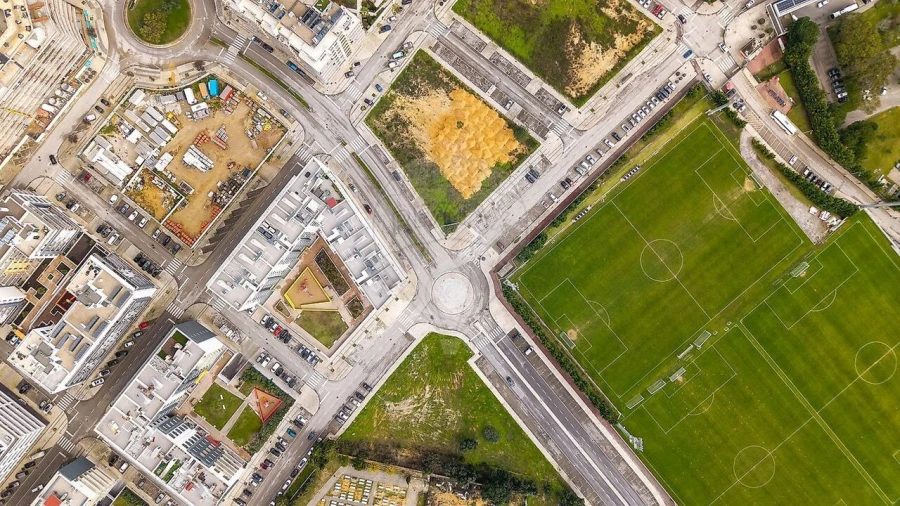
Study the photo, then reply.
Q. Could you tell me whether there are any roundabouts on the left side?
Yes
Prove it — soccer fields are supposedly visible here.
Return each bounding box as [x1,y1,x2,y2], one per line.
[617,320,889,506]
[510,112,813,408]
[735,214,900,506]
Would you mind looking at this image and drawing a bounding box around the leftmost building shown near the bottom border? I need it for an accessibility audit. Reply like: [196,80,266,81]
[0,389,48,494]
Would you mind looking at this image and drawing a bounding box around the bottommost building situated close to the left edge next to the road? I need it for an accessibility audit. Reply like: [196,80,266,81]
[28,459,112,506]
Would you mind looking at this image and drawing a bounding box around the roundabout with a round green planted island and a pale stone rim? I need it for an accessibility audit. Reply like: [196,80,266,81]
[107,0,211,65]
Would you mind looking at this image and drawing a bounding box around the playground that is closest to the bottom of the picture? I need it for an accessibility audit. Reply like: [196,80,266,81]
[253,387,283,423]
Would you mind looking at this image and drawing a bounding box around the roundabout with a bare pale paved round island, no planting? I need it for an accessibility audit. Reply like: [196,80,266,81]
[417,257,489,329]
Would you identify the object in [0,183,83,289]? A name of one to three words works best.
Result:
building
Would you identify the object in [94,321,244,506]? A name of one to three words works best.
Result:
building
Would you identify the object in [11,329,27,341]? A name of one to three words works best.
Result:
vehicle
